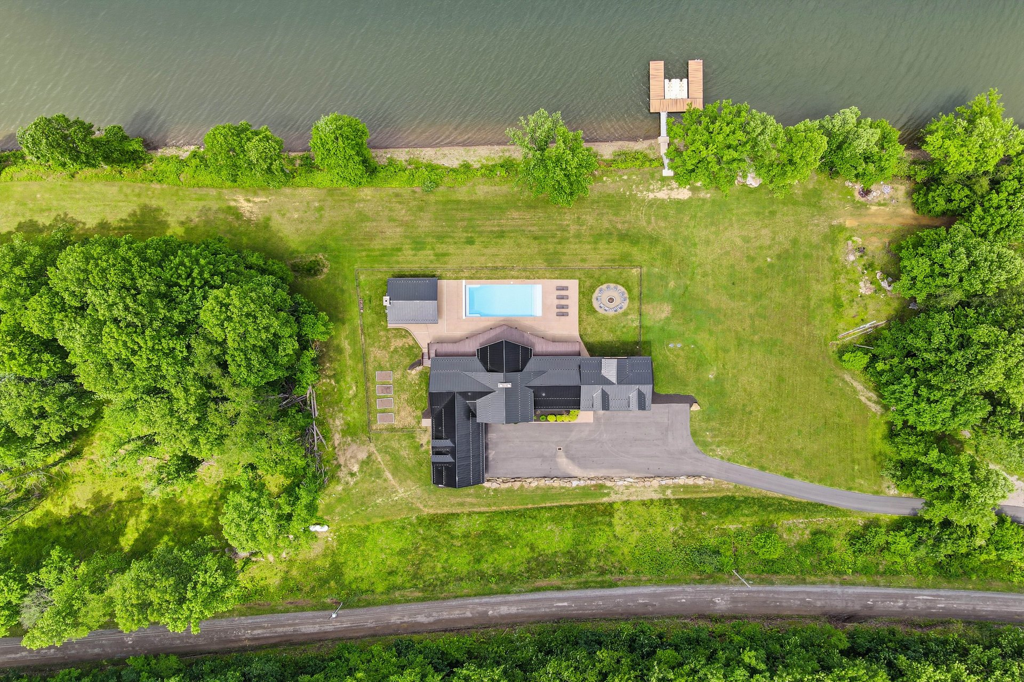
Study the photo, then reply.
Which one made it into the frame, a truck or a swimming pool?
swimming pool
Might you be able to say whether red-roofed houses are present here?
No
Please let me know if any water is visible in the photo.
Yes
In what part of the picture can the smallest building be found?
center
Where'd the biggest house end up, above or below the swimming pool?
below it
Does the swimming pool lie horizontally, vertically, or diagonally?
horizontally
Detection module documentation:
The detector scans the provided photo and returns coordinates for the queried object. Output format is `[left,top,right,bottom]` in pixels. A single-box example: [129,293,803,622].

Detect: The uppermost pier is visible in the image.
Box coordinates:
[649,57,703,113]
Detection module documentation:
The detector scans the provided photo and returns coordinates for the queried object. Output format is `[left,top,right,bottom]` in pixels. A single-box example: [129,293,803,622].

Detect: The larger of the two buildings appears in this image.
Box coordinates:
[429,339,653,490]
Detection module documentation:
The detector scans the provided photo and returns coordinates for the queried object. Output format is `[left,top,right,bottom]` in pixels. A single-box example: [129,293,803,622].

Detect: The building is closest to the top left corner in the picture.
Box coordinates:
[383,278,438,324]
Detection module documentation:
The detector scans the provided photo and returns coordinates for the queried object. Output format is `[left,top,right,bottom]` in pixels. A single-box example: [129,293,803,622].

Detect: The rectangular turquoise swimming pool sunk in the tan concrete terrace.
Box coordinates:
[462,280,542,319]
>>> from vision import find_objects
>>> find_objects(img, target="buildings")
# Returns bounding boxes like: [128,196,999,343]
[429,339,653,490]
[383,278,438,324]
